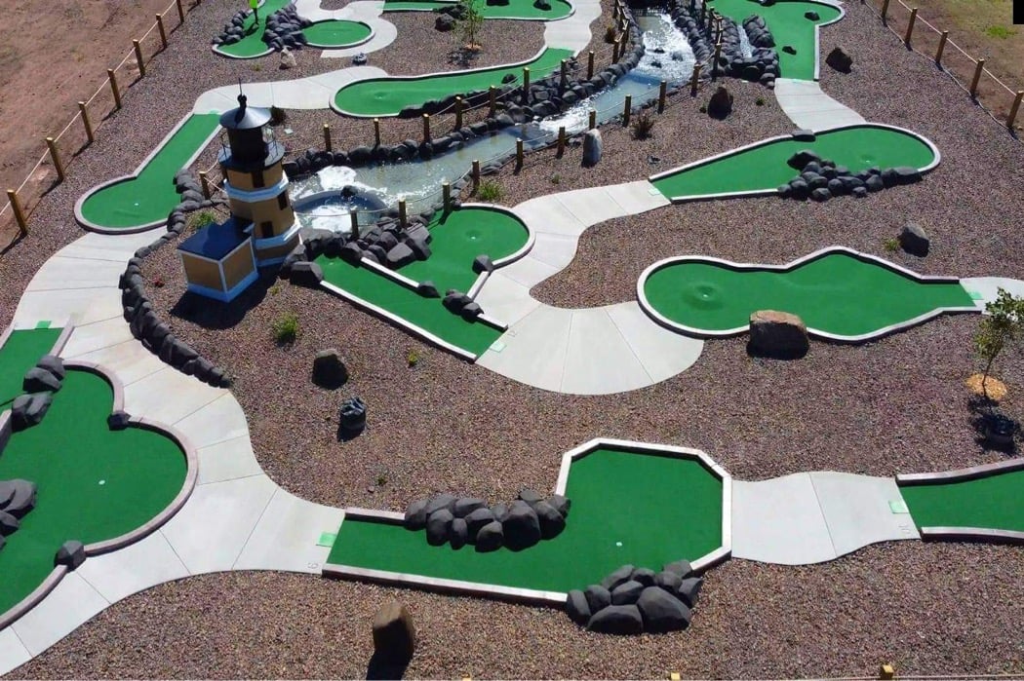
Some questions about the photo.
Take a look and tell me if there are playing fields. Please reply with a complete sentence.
No, no playing field is visible in the scene.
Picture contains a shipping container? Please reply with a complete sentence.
No, the photo shows no shipping container.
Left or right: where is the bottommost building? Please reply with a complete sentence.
You can find the bottommost building on the left side of the picture.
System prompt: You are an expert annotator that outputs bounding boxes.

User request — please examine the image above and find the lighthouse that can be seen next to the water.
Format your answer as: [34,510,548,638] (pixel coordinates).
[218,78,301,266]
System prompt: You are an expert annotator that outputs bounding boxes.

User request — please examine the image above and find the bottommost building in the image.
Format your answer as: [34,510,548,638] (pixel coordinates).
[177,225,258,302]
